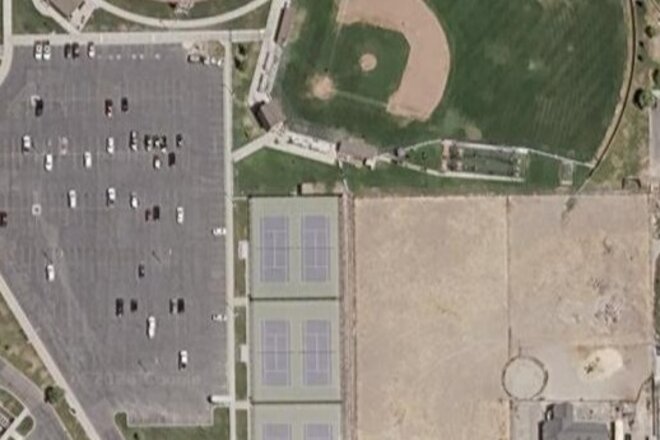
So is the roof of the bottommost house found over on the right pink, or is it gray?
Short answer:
gray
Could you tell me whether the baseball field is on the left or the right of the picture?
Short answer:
right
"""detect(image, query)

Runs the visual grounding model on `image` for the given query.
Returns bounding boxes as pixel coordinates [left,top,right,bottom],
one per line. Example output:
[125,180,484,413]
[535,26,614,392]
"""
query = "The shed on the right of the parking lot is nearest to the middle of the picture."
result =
[298,181,325,194]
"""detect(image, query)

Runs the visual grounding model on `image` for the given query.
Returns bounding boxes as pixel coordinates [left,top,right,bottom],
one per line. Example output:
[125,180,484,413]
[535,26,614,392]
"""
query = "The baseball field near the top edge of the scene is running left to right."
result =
[272,0,635,167]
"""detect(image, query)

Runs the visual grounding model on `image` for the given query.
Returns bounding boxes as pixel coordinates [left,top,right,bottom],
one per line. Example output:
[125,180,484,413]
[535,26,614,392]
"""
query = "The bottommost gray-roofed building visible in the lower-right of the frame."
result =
[541,401,610,440]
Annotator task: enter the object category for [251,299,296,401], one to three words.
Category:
tennis court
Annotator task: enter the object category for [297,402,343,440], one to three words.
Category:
tennis court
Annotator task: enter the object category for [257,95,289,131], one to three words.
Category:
building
